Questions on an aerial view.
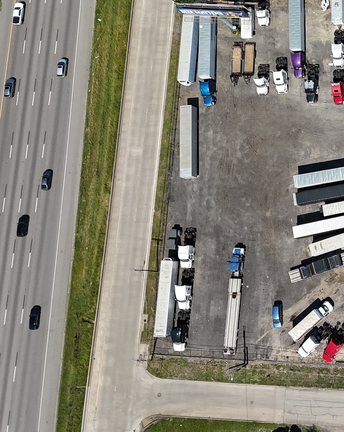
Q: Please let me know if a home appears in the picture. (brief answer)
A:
No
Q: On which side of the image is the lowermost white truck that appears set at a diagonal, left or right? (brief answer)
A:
right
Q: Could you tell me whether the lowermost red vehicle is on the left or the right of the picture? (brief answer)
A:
right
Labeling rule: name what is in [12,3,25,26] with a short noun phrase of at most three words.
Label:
vehicle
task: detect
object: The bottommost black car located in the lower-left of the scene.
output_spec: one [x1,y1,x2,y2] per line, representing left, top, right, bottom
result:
[28,306,41,329]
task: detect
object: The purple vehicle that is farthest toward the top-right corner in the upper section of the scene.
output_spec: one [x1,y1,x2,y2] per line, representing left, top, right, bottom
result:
[290,52,305,79]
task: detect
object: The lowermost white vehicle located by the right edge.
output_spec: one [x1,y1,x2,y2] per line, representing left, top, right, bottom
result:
[298,322,331,357]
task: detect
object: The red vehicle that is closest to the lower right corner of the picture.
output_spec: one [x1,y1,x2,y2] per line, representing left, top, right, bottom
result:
[323,324,344,363]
